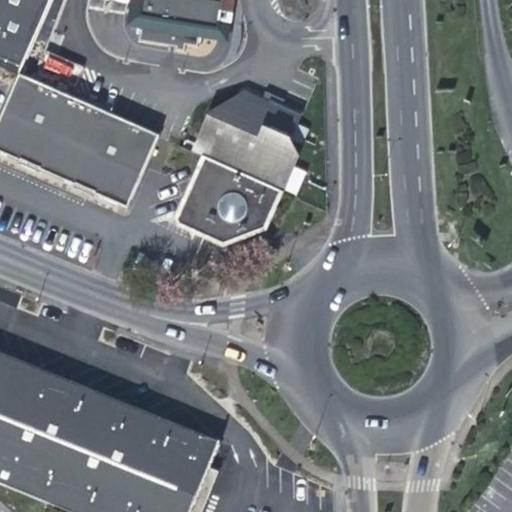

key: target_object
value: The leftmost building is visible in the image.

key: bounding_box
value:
[0,0,53,75]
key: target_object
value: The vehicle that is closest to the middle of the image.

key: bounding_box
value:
[266,286,292,302]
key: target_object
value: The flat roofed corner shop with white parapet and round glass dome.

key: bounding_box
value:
[177,156,284,246]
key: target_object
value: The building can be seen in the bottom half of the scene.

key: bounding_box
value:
[0,350,222,512]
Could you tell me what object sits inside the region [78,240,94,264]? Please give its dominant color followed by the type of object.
white car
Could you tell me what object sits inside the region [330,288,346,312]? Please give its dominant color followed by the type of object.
white car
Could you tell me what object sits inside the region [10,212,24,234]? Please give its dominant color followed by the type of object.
gray car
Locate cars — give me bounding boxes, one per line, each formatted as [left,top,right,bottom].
[168,166,192,182]
[108,84,120,105]
[154,202,177,215]
[366,418,388,428]
[296,480,306,500]
[54,231,70,253]
[43,228,58,251]
[338,16,349,40]
[262,504,272,512]
[418,456,428,476]
[322,246,338,270]
[33,222,46,242]
[67,236,82,260]
[0,208,14,232]
[116,338,138,352]
[20,217,36,240]
[254,360,277,377]
[92,76,105,98]
[162,252,175,274]
[330,288,346,312]
[165,326,186,340]
[224,347,246,360]
[196,306,216,315]
[266,286,292,302]
[42,307,62,319]
[243,504,262,512]
[10,212,24,234]
[78,240,94,264]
